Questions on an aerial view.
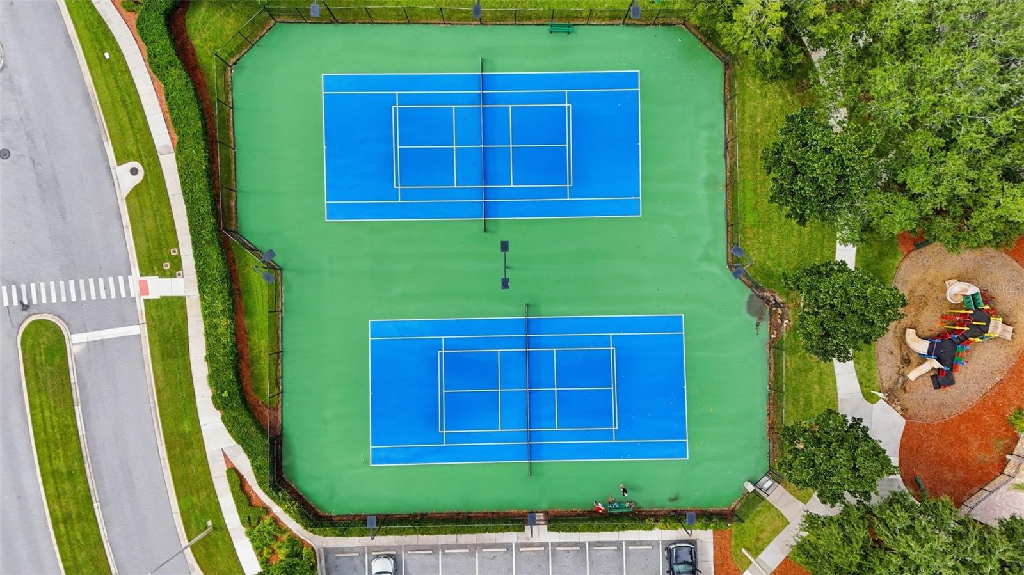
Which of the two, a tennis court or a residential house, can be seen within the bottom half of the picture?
tennis court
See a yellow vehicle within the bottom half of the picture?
No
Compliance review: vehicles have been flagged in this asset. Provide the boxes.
[370,555,396,575]
[666,543,699,575]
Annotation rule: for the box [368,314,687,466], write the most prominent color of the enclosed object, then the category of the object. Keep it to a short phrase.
blue tennis court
